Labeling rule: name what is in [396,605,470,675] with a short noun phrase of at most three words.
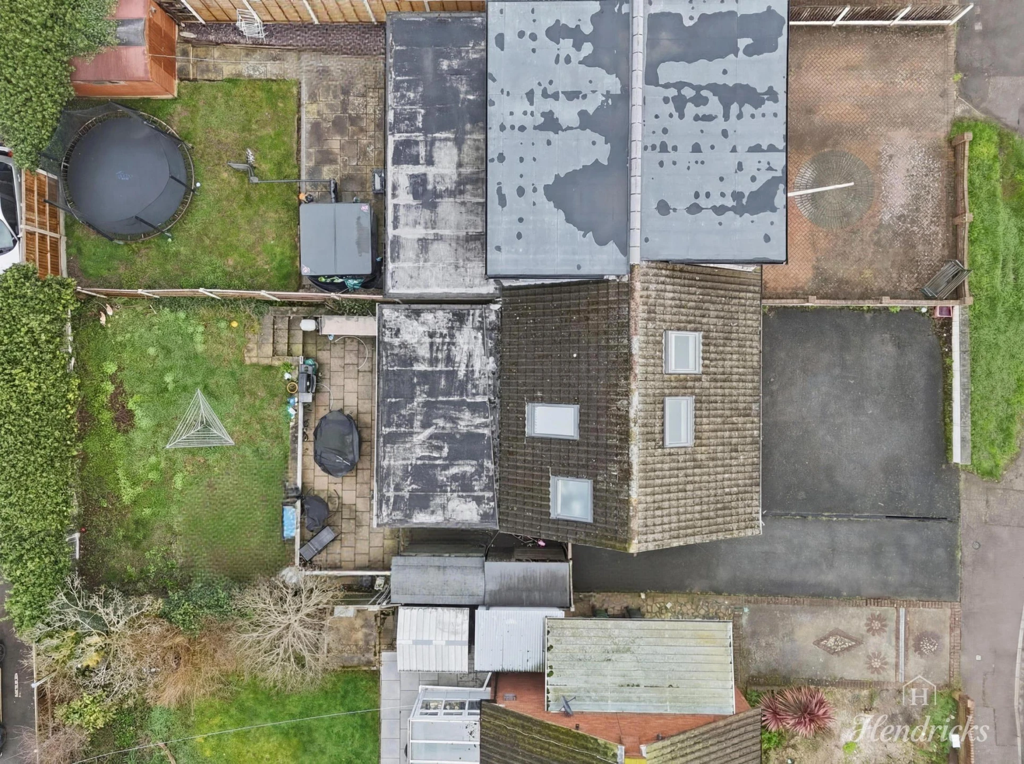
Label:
shed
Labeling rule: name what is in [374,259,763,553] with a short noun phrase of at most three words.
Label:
house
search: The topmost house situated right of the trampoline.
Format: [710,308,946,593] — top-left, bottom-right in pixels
[385,0,790,304]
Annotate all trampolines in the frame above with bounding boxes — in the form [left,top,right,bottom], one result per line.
[28,85,204,243]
